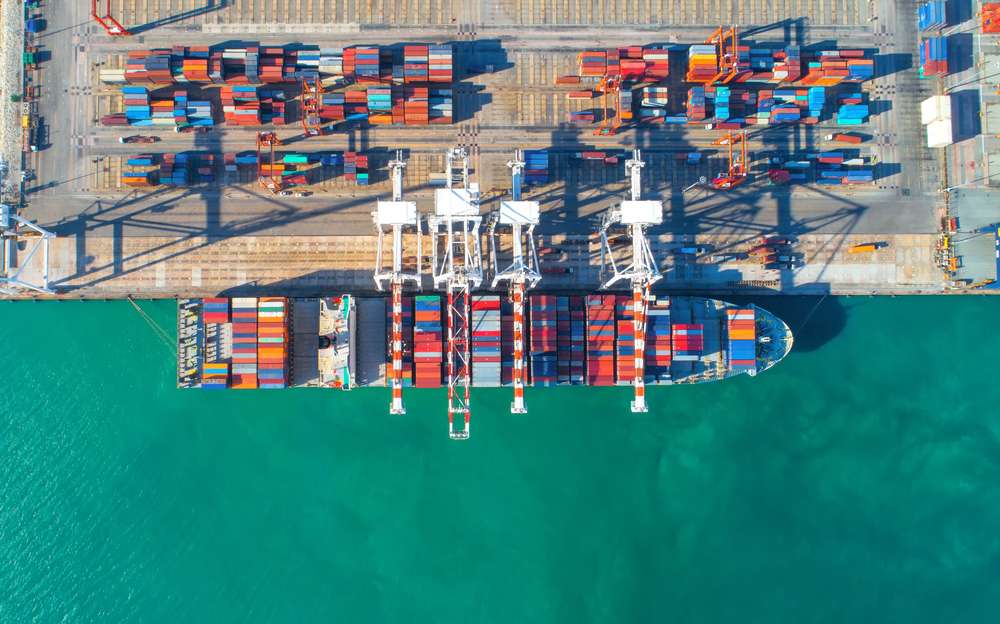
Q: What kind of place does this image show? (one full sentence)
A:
The area seen from above is a port.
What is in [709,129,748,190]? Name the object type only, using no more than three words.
container crane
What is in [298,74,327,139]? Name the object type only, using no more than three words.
container crane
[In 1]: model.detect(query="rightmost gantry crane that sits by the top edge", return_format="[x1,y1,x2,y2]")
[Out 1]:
[701,22,739,87]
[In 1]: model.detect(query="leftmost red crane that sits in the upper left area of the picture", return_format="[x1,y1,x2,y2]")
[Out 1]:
[91,0,131,37]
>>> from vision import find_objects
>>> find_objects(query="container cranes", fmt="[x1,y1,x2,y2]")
[298,74,327,139]
[482,152,543,412]
[701,22,739,87]
[591,73,623,137]
[91,0,131,37]
[425,144,486,439]
[589,152,663,411]
[709,129,748,190]
[366,152,428,412]
[256,130,287,192]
